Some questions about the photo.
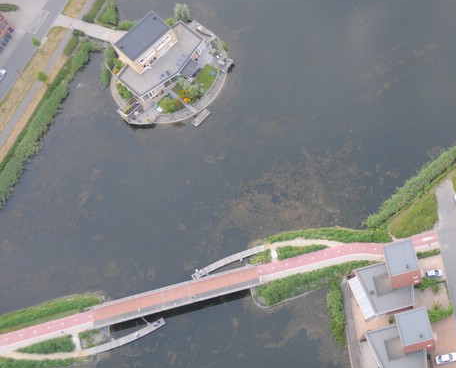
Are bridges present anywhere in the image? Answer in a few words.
Yes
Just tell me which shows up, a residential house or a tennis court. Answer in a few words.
residential house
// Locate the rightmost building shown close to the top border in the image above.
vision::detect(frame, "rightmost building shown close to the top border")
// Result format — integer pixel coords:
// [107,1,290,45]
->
[114,11,207,103]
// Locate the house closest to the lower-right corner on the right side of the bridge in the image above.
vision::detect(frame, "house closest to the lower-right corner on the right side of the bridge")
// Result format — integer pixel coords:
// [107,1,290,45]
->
[365,307,435,368]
